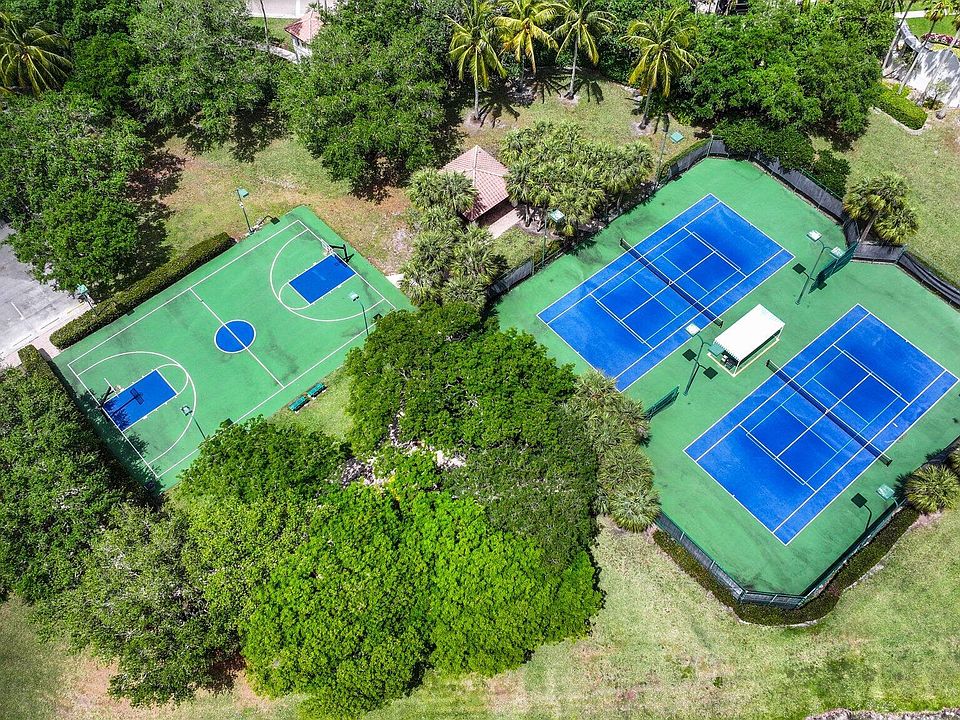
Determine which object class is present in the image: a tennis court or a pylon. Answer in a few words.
tennis court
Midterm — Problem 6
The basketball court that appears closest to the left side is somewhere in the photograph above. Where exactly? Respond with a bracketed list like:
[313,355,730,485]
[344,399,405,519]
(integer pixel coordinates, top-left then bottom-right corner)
[49,205,412,494]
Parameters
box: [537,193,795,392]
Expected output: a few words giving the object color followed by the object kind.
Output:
blue tennis court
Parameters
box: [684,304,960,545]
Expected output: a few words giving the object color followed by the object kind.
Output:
blue tennis court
